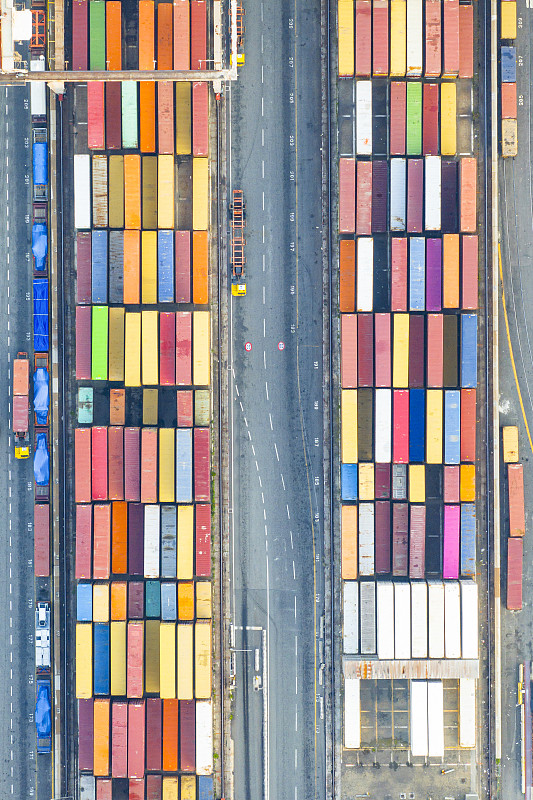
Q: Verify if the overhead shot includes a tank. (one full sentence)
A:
No, this view has no tank in it.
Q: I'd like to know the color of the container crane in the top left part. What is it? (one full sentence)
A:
The container crane in the top left part is white.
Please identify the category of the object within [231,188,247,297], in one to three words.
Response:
vehicle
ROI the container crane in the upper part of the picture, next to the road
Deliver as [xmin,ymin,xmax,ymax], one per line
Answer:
[0,0,238,101]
